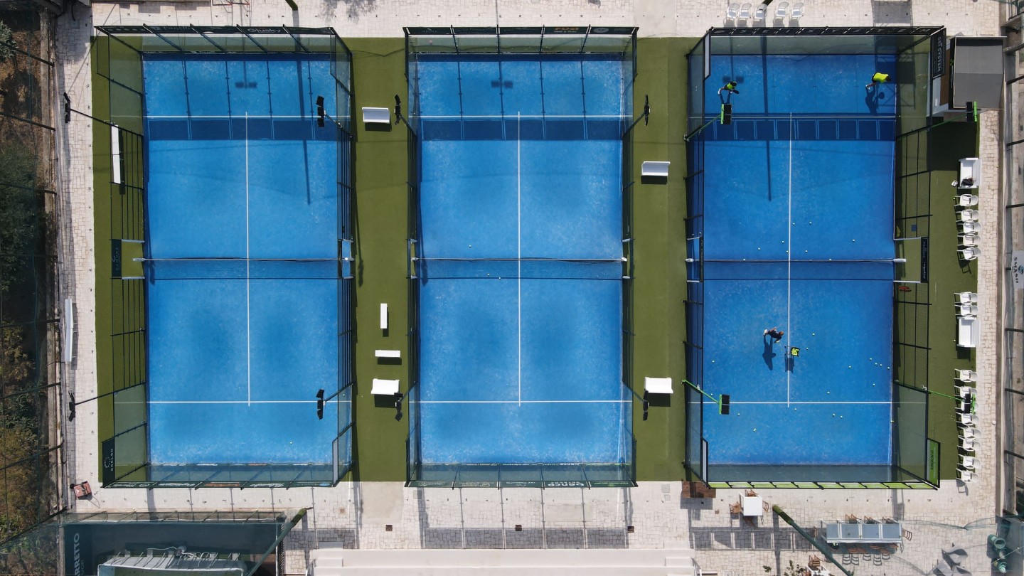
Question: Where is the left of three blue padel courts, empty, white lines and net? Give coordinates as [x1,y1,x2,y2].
[142,52,353,465]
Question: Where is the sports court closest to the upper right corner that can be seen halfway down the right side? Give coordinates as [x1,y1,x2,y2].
[684,53,895,465]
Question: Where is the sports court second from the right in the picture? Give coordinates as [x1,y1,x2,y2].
[415,53,624,465]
